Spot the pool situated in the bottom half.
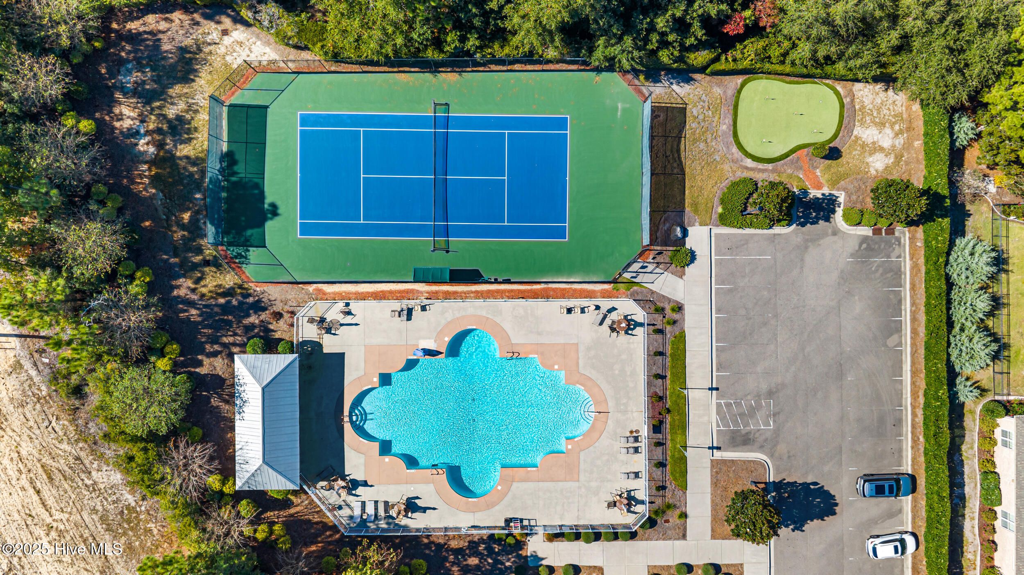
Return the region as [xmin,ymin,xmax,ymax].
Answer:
[335,314,609,513]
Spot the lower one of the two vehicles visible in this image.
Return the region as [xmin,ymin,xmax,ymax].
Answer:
[865,530,918,558]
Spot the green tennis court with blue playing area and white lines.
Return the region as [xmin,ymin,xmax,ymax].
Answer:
[224,72,643,281]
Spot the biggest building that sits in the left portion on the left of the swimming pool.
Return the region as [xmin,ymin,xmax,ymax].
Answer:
[234,353,310,491]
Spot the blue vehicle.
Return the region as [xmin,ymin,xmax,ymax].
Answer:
[857,473,915,501]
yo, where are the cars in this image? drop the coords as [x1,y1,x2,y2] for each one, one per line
[865,530,918,558]
[857,473,915,501]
